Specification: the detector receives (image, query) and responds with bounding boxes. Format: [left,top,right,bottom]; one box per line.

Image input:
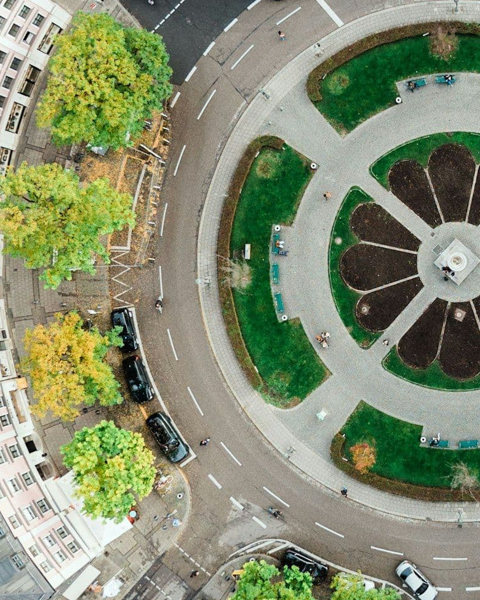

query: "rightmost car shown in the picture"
[392,556,442,600]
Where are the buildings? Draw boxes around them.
[0,0,74,189]
[0,377,132,600]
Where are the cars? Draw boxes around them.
[392,556,442,600]
[111,306,142,353]
[122,353,157,405]
[147,407,192,466]
[278,546,336,586]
